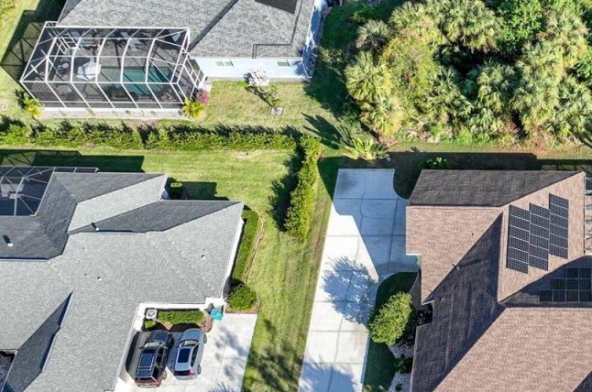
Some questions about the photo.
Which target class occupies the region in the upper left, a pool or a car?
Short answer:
pool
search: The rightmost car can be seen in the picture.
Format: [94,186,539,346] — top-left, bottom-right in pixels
[167,328,211,385]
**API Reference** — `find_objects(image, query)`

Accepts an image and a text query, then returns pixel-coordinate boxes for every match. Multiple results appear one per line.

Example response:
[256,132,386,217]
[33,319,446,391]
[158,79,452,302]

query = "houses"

[57,0,326,78]
[405,170,592,392]
[0,172,250,392]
